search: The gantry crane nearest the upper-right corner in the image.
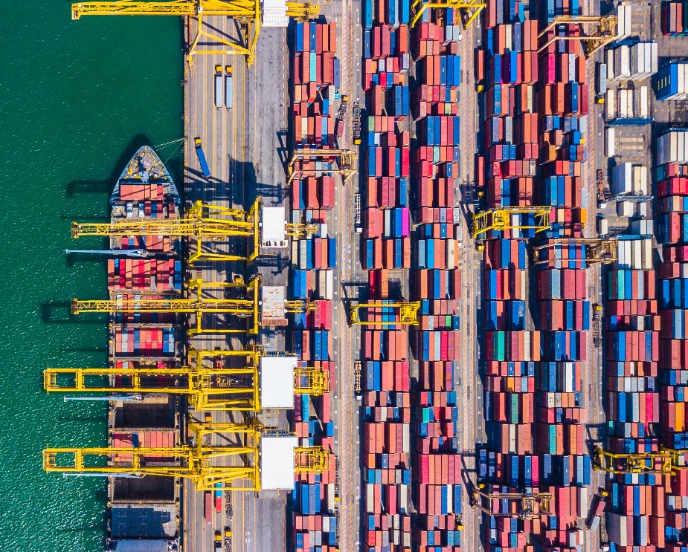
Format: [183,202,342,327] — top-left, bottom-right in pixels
[536,10,619,57]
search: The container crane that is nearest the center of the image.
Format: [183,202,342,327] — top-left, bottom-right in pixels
[349,301,423,330]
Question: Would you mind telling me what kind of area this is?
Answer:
port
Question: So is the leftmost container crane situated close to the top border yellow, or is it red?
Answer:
yellow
